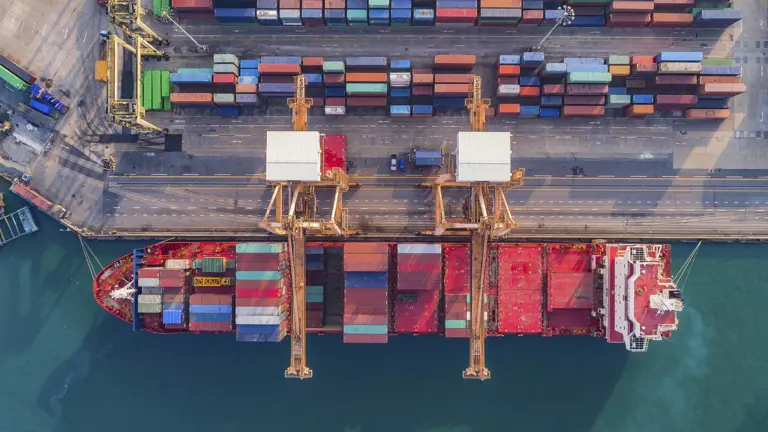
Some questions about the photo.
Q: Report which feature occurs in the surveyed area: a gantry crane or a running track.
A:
gantry crane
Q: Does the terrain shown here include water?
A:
Yes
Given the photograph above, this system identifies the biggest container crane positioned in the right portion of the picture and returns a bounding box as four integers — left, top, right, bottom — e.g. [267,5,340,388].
[415,74,528,380]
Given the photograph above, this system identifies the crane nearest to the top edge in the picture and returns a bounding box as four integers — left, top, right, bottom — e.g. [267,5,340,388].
[108,0,170,44]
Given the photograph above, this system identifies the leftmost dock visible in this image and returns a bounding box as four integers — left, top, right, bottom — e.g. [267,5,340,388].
[0,206,39,248]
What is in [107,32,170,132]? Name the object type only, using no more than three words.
container crane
